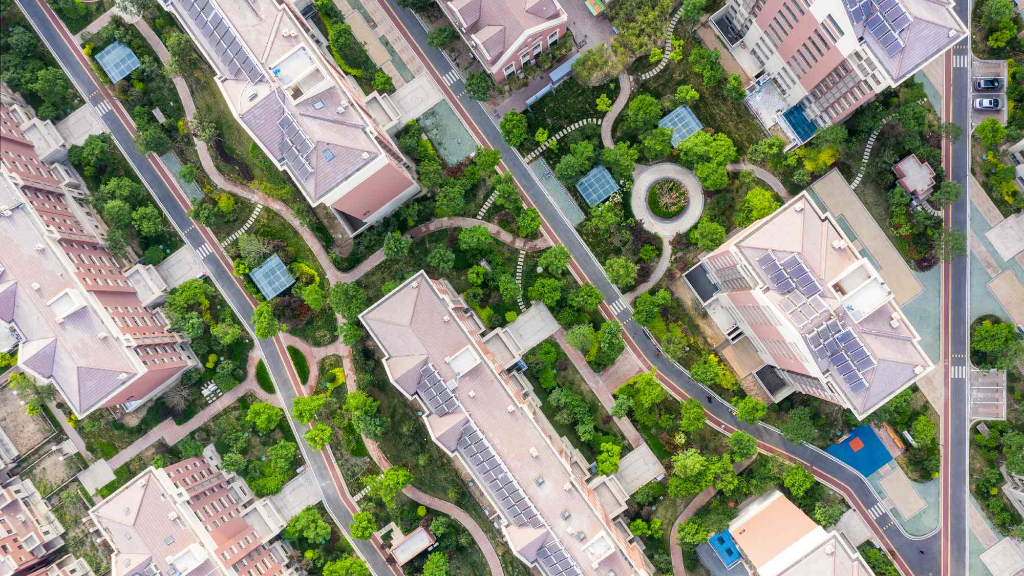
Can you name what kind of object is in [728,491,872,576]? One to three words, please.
building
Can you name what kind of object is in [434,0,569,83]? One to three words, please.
building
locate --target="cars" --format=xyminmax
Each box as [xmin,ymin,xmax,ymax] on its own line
[976,76,1004,91]
[975,96,1006,110]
